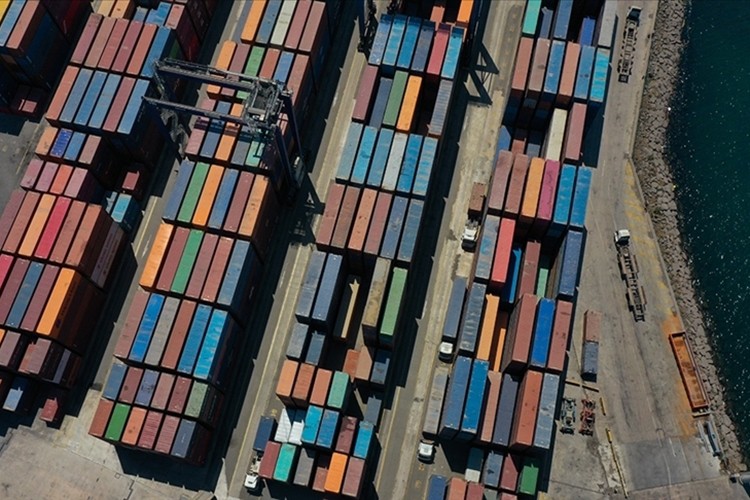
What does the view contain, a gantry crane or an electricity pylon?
gantry crane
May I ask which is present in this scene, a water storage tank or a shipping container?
shipping container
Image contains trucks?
Yes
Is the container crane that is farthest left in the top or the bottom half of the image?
top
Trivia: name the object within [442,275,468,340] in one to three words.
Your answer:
shipping container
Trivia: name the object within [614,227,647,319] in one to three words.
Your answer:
truck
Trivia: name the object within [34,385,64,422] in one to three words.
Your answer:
shipping container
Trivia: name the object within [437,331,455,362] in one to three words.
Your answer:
vehicle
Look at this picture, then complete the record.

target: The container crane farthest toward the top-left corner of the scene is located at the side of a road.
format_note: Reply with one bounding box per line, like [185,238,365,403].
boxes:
[141,59,311,193]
